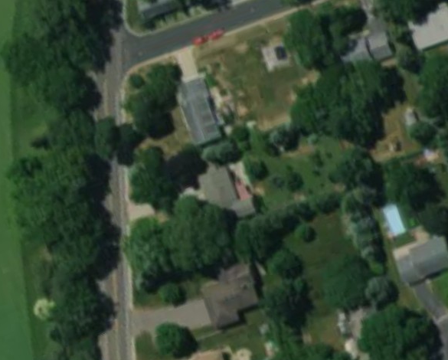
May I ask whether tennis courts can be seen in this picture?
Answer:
No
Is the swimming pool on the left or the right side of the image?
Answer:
right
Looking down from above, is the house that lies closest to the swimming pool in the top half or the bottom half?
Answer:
bottom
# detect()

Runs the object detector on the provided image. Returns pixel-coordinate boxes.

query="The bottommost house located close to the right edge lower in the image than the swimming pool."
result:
[399,240,448,285]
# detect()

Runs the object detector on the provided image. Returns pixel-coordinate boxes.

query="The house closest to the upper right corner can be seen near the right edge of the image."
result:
[410,4,448,49]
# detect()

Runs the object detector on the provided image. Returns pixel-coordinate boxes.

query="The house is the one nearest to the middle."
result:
[205,165,255,218]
